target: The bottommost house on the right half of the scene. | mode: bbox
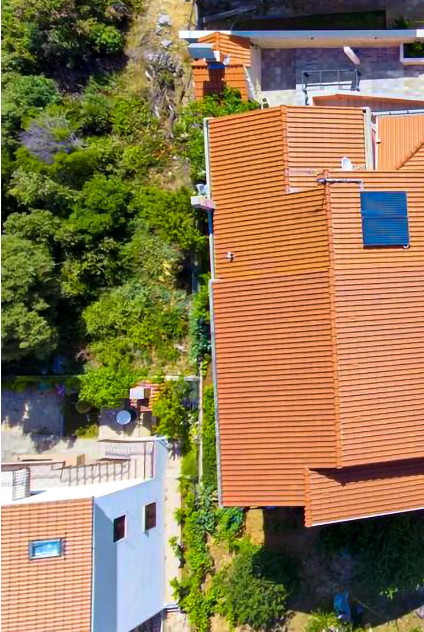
[191,106,424,528]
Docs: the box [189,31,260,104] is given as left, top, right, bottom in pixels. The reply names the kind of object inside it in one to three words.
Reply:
shed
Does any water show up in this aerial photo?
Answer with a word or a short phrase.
No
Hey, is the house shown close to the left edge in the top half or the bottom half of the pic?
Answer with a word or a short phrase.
bottom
